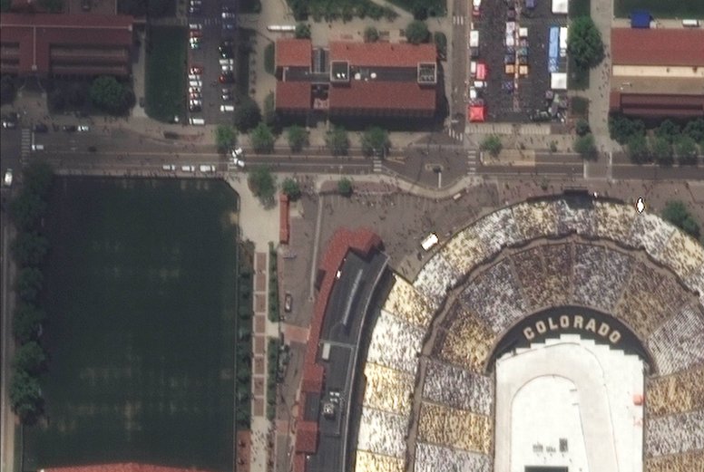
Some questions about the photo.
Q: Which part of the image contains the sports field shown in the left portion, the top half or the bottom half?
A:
bottom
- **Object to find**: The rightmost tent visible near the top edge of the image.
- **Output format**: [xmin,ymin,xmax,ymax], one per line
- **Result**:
[632,11,651,28]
